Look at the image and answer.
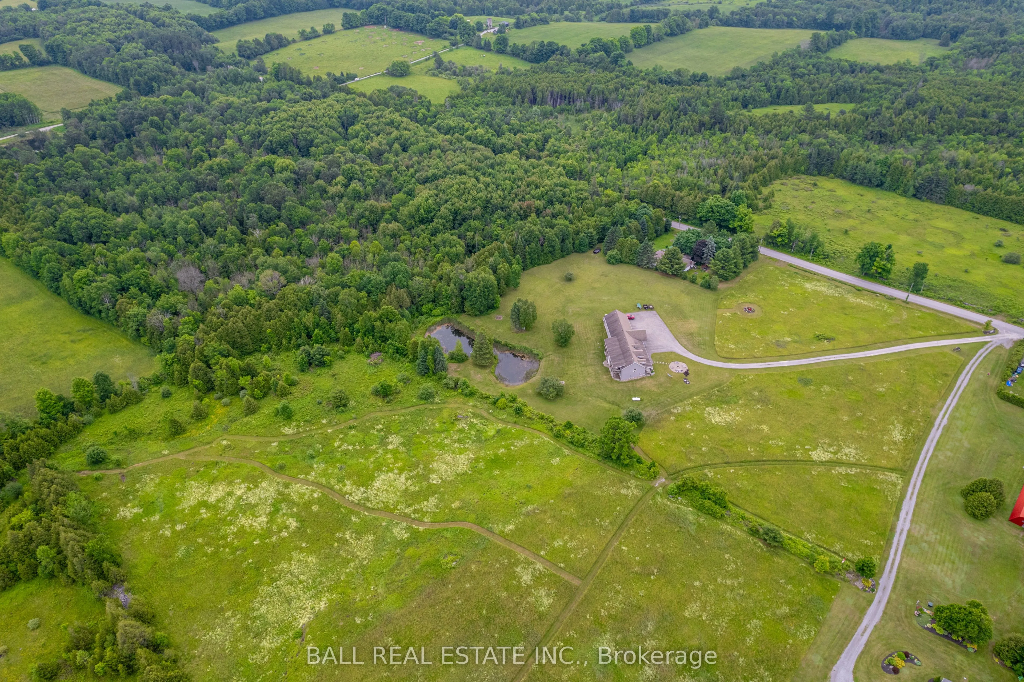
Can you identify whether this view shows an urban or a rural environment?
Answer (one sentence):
It looks rural.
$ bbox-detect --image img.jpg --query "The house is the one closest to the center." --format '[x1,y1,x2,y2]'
[599,310,655,378]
